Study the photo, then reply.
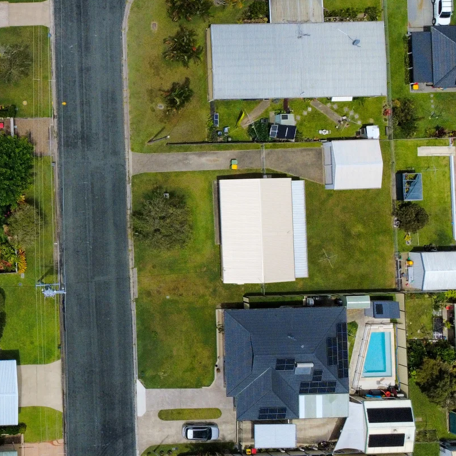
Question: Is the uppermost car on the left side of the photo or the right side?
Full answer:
The uppermost car sits on the right side.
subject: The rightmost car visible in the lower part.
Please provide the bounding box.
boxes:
[181,423,219,442]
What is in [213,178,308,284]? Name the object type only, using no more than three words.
house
